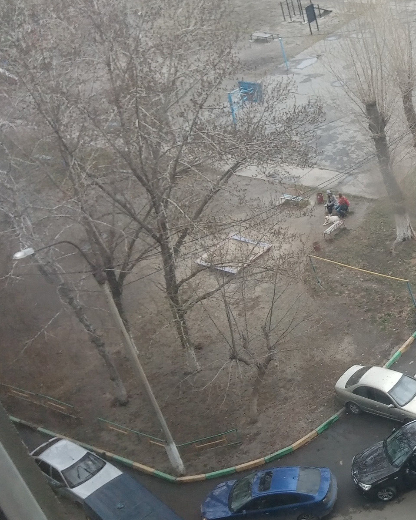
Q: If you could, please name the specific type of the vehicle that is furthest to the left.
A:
automobile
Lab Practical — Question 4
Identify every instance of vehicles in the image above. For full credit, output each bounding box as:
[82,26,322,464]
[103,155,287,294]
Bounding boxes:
[24,436,131,518]
[327,362,416,421]
[196,464,341,520]
[350,417,416,500]
[86,478,181,520]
